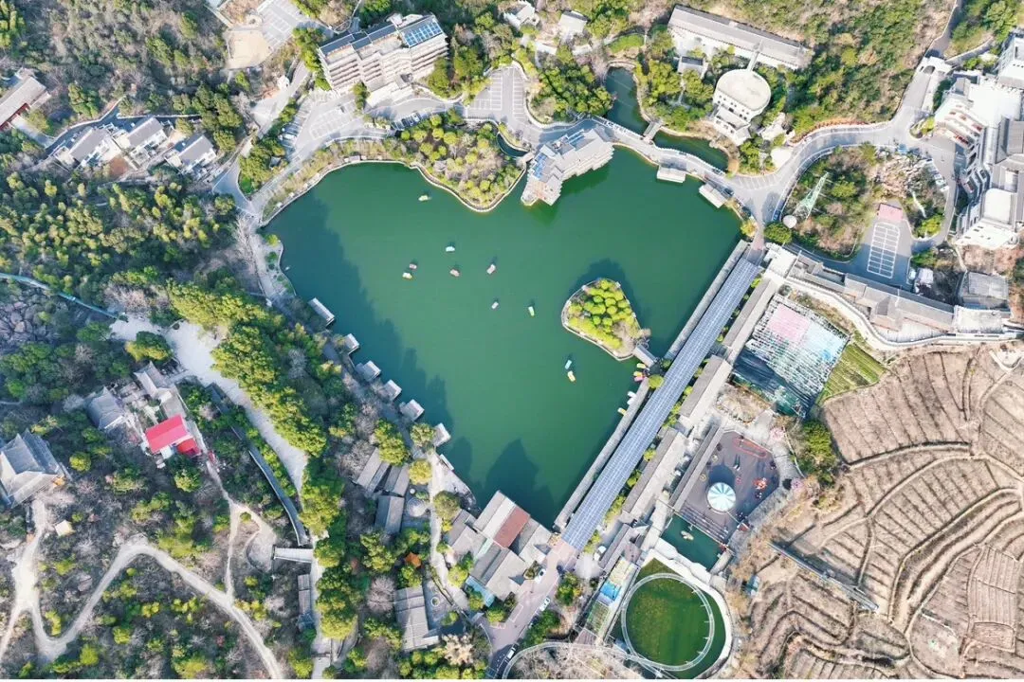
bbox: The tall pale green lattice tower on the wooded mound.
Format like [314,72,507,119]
[790,171,835,225]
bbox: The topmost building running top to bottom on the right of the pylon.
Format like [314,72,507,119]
[930,42,1024,252]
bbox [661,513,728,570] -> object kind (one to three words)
swimming pool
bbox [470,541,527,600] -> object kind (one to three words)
building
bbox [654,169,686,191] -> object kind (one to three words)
shed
